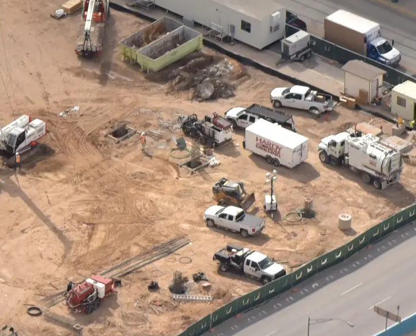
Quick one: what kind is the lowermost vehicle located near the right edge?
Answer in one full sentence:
It turns out the lowermost vehicle located near the right edge is a truck.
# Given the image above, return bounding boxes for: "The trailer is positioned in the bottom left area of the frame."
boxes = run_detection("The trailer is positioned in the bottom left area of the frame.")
[67,269,120,307]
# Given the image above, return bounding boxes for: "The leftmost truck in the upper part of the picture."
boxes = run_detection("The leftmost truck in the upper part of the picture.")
[76,0,108,48]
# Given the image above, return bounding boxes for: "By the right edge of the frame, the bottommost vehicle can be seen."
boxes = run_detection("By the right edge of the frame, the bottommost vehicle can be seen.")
[314,132,408,190]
